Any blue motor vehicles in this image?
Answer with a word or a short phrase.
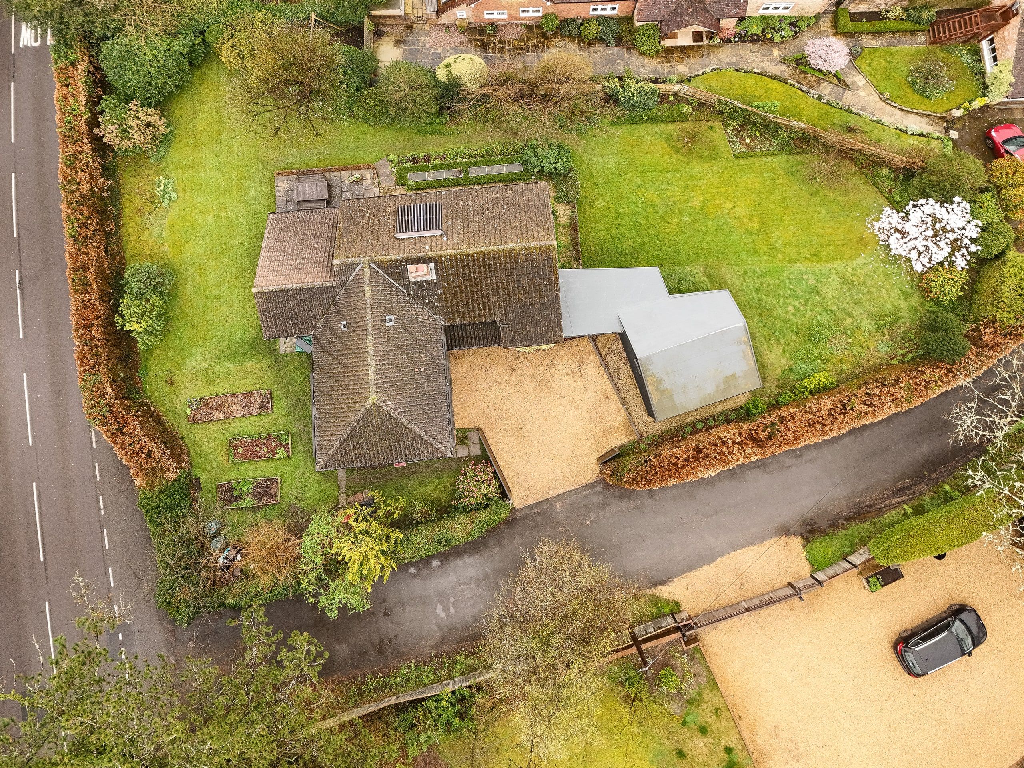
No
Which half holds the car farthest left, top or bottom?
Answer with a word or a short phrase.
bottom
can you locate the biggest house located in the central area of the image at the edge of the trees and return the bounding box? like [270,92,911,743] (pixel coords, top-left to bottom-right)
[254,179,566,473]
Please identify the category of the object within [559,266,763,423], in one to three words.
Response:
building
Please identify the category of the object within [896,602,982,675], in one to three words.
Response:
car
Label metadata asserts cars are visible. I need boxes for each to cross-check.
[896,602,982,675]
[984,125,1024,171]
